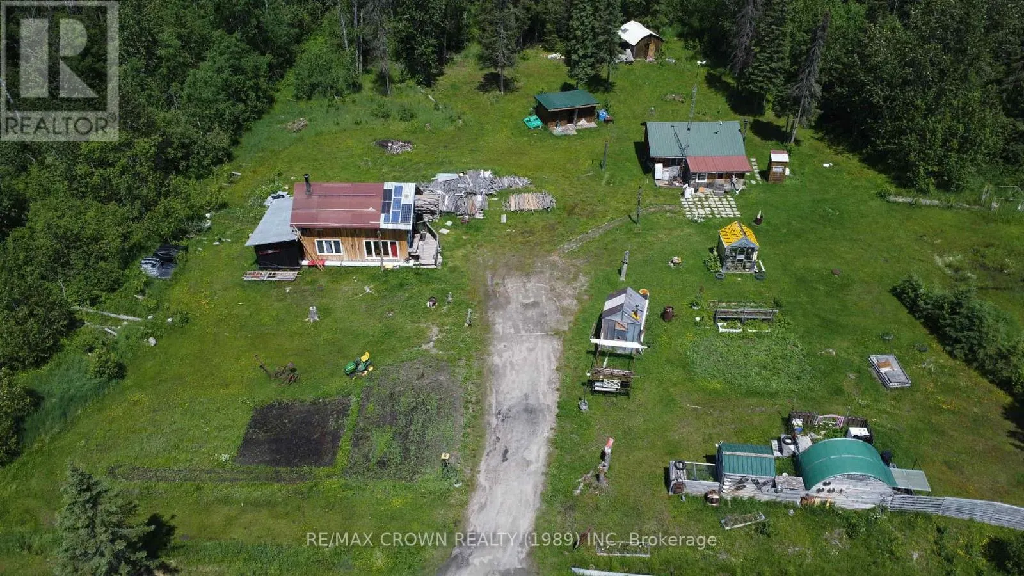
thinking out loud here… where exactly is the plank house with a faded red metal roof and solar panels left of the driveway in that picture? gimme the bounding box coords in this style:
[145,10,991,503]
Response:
[246,173,417,268]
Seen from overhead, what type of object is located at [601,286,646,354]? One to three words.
shed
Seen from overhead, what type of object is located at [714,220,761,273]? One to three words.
greenhouse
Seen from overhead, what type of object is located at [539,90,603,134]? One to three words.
shed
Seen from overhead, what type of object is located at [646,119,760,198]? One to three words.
house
